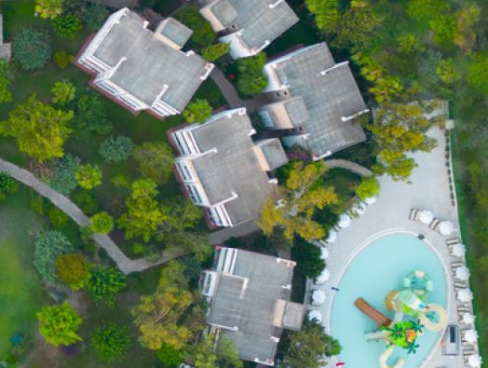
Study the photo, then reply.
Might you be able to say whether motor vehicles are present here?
No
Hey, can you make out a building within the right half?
Yes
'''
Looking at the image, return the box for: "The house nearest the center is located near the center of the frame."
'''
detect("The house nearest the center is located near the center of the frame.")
[171,110,288,234]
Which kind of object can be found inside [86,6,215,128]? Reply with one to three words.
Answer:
house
